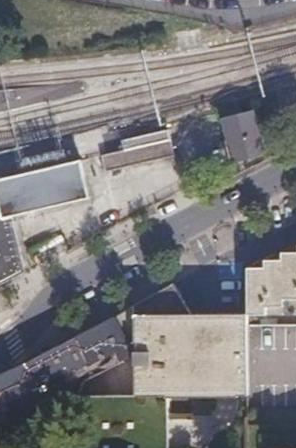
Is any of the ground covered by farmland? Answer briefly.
No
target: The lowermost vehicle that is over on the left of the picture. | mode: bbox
[78,286,99,302]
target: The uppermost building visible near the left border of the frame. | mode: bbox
[0,161,88,218]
